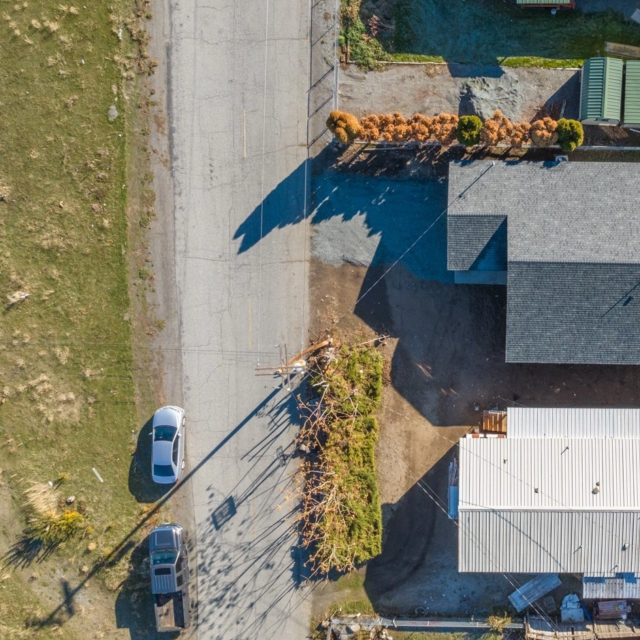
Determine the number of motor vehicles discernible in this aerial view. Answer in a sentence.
In total, there are 2 motor vehicles in the scene.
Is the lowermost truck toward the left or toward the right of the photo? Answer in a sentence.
The lowermost truck sits on the left side.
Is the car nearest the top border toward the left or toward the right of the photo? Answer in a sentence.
The car nearest the top border appears in the left half of the scene.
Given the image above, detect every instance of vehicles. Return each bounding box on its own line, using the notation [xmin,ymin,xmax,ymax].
[144,521,190,631]
[146,405,186,485]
